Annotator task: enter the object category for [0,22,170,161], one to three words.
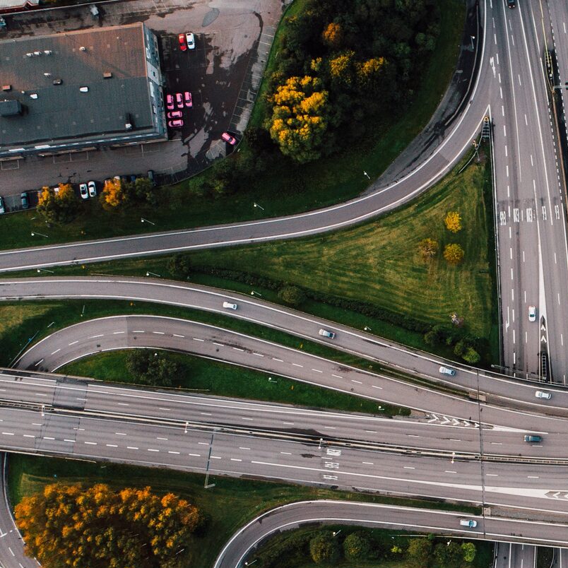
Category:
building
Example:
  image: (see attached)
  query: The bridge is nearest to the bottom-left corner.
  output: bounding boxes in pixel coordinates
[0,365,52,464]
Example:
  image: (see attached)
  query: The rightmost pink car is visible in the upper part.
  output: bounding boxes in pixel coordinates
[220,131,238,144]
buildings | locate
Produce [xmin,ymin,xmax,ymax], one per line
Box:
[0,22,170,161]
[0,0,50,14]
